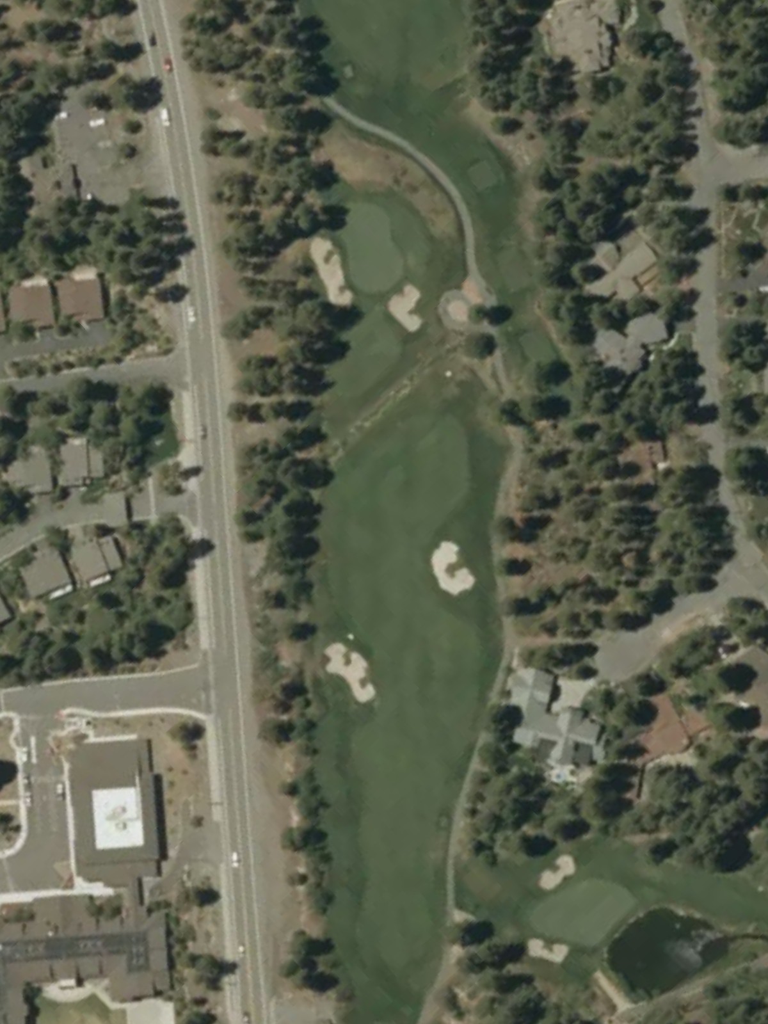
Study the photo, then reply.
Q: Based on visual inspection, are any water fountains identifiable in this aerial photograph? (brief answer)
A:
Yes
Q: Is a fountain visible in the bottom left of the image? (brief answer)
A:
No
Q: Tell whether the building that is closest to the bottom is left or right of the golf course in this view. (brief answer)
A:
to the left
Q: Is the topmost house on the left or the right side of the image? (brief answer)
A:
right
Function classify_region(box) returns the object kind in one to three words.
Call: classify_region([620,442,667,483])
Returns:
house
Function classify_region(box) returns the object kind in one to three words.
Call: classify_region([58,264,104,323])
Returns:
house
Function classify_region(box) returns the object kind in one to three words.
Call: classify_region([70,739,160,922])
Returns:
building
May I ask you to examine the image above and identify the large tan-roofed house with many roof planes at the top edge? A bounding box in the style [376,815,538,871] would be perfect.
[547,0,619,74]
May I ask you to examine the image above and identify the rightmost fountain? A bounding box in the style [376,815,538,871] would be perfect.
[678,927,722,970]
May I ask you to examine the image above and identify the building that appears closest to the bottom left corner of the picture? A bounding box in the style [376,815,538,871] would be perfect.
[0,895,174,1024]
